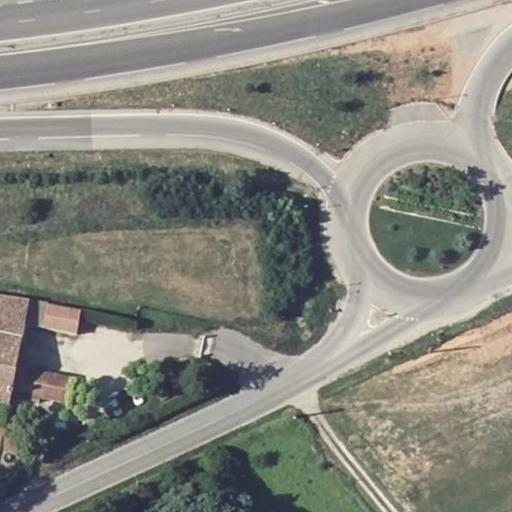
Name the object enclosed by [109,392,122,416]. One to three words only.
vehicle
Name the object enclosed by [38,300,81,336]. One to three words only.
shed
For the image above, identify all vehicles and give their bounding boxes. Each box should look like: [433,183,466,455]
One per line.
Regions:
[133,390,144,405]
[109,392,122,416]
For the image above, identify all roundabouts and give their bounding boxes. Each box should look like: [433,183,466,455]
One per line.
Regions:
[322,112,512,368]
